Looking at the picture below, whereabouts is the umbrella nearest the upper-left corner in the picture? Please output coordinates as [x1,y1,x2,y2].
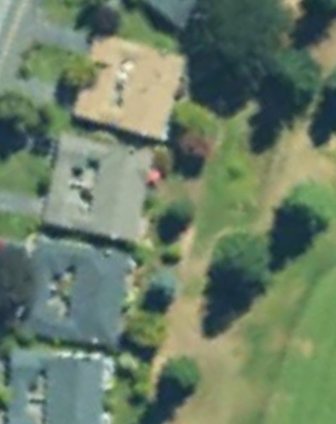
[146,168,160,182]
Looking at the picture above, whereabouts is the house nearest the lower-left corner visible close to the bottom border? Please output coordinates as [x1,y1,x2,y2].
[8,349,113,424]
